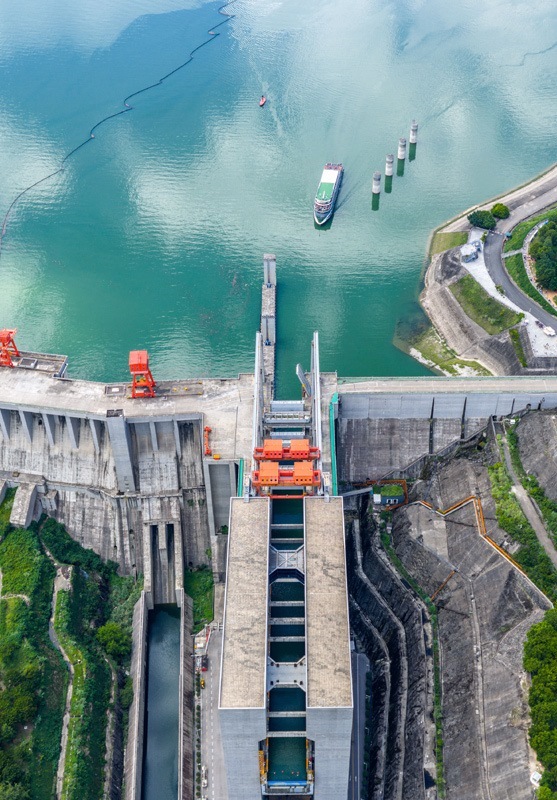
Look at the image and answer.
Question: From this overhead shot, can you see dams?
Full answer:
Yes, you can see a dam in this photo.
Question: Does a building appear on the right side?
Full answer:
Yes, a building shows up on the right side.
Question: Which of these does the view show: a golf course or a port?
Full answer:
This looks like a port.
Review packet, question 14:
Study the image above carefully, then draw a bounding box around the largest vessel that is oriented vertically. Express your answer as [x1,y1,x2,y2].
[314,157,341,224]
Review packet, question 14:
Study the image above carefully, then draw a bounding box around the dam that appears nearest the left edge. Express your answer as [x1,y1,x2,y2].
[0,349,210,611]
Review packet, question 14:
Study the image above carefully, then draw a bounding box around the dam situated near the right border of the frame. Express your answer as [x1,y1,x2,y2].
[337,375,557,552]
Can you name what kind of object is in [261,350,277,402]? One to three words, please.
pier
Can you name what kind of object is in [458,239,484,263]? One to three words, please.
building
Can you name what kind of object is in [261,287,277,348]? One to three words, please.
pier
